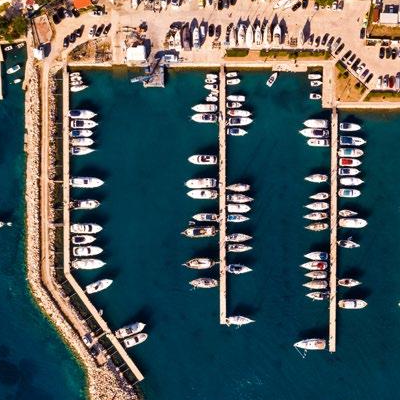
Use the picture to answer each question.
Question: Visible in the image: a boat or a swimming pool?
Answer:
boat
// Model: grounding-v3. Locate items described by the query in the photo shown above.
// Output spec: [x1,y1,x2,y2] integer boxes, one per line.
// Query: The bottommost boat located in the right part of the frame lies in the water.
[293,338,326,357]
